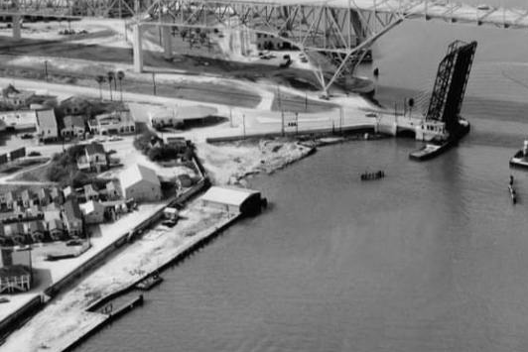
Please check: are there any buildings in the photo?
Yes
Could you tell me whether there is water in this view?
Yes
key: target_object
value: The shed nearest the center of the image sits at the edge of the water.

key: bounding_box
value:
[200,179,269,220]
